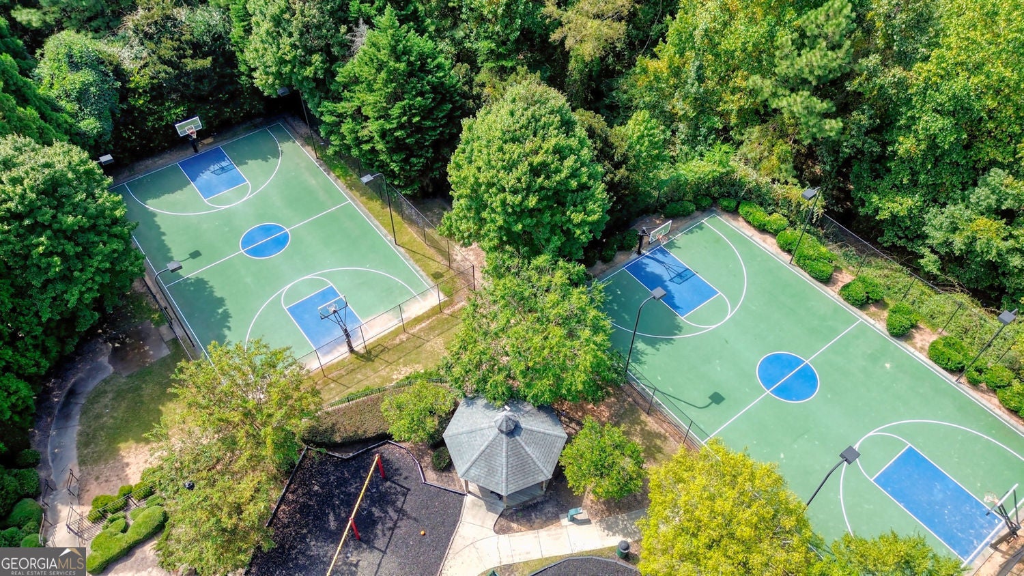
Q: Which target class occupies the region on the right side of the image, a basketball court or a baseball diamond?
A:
basketball court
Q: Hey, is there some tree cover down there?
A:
Yes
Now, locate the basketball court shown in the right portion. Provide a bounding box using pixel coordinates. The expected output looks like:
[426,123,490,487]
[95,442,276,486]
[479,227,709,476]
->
[552,206,1024,576]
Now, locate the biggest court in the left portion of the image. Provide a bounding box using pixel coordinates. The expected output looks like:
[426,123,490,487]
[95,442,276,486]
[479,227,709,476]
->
[123,116,452,415]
